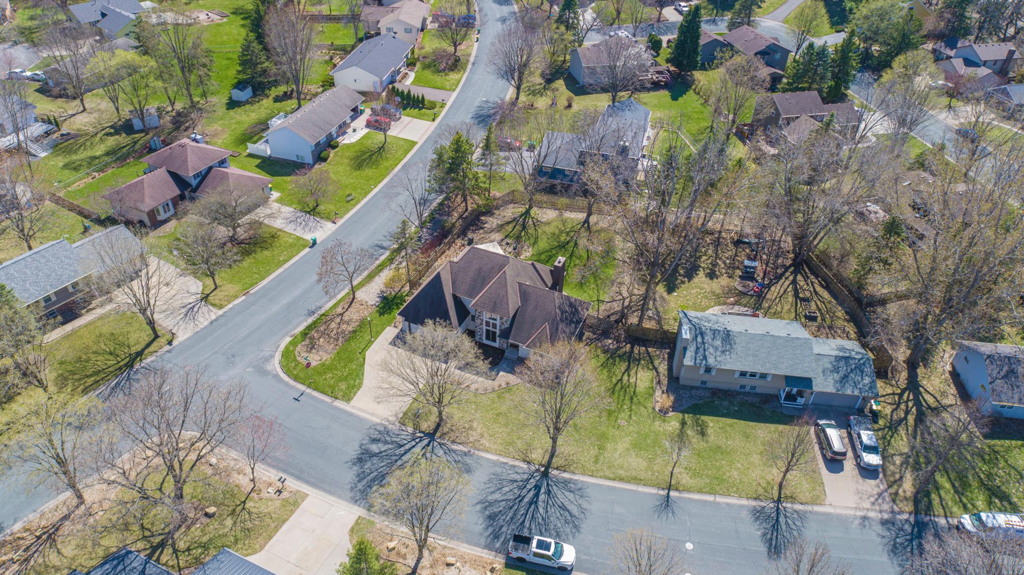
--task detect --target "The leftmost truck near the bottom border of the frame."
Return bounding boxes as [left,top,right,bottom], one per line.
[506,529,577,570]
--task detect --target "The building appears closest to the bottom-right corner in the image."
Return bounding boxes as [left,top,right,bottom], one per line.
[956,341,1024,424]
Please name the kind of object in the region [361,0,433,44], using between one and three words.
house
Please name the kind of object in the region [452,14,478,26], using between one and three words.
vehicle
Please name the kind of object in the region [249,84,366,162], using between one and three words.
house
